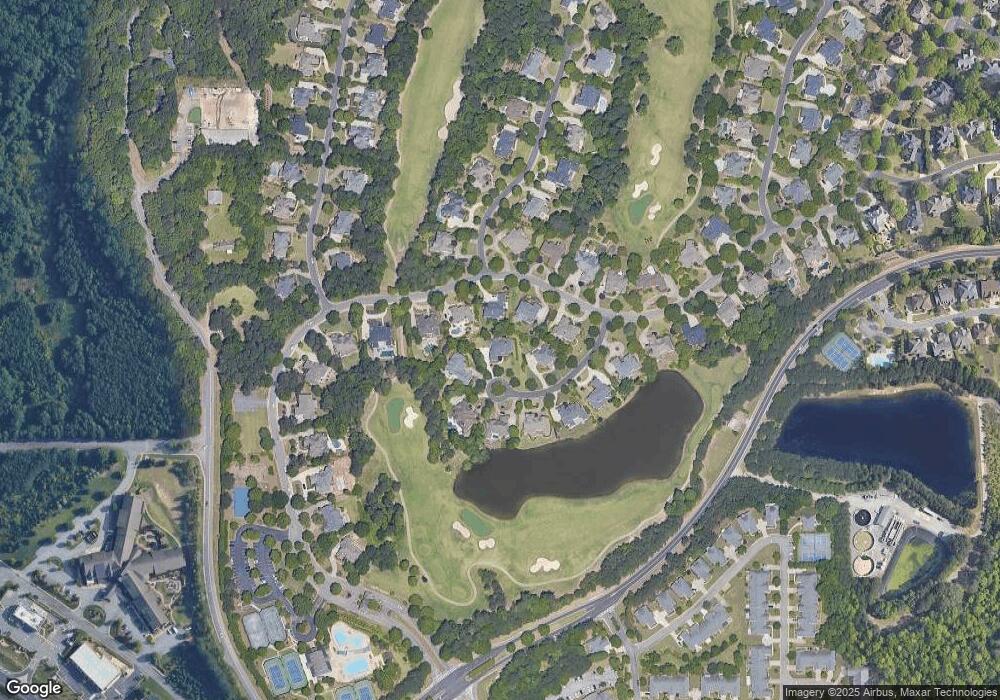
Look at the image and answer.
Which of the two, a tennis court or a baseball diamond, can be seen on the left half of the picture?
tennis court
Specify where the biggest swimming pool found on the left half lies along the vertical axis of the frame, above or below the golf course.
below it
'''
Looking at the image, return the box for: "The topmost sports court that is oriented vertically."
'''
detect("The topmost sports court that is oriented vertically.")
[233,487,249,517]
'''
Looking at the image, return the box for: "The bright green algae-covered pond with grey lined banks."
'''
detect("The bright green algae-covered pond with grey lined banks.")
[880,527,942,597]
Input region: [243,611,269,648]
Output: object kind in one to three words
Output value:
tennis court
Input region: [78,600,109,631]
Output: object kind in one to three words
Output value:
roundabout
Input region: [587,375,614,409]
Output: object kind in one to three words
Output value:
house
